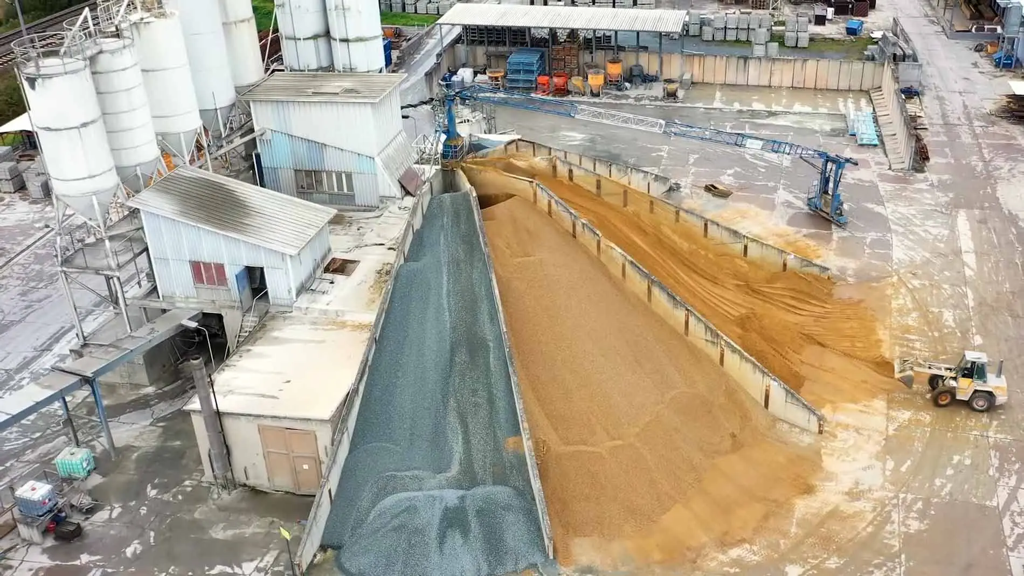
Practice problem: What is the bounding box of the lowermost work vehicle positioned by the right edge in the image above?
[891,345,1019,416]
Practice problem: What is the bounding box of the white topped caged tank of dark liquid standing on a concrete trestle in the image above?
[9,478,57,526]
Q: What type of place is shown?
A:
industrial area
